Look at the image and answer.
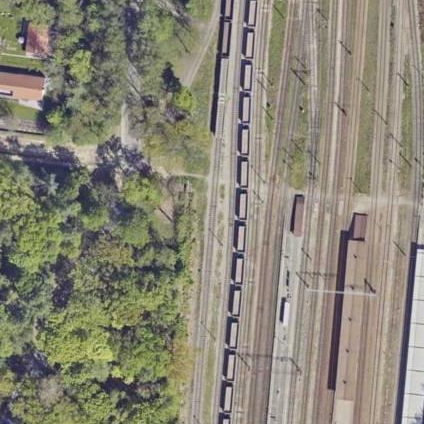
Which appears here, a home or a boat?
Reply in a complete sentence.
There is a home in the scene.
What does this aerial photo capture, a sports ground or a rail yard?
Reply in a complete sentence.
What you see here is a rail yard.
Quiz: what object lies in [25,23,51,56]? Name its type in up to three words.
house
